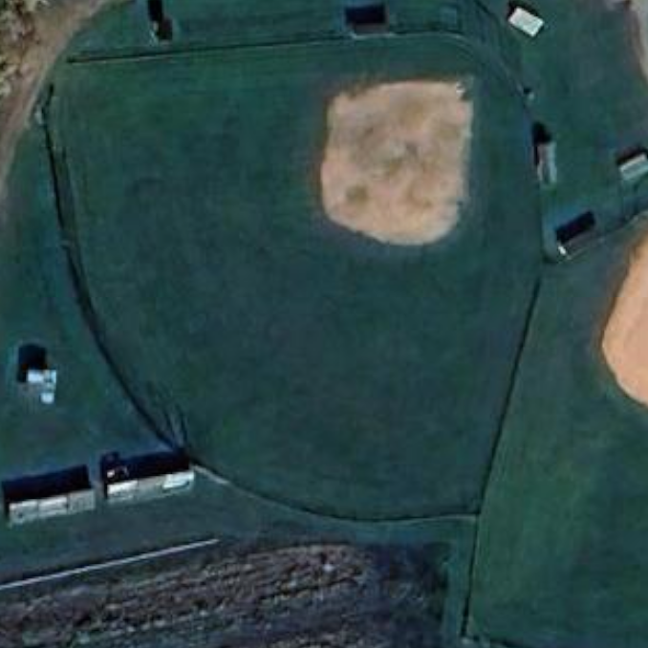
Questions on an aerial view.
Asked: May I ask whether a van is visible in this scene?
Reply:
No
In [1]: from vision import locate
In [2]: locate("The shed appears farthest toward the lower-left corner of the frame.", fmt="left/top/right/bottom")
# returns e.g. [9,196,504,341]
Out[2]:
[4,486,96,530]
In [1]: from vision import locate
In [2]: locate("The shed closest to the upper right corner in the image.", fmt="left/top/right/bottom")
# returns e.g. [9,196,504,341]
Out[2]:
[506,3,544,37]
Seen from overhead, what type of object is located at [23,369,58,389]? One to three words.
shed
